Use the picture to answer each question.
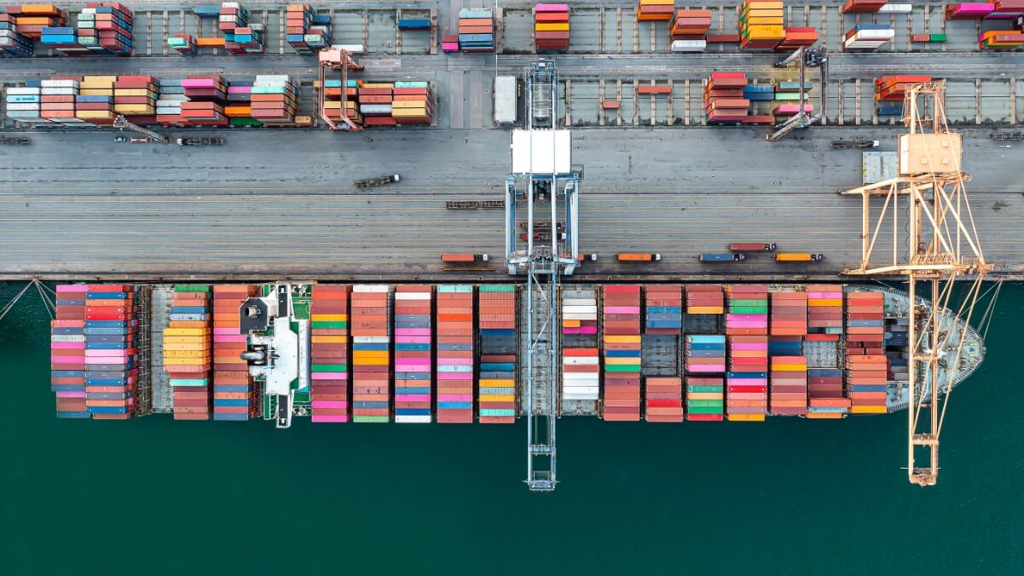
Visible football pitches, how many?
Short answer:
0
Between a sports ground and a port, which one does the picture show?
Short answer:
port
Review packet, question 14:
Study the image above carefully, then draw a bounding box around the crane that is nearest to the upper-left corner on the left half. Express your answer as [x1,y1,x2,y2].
[318,47,366,129]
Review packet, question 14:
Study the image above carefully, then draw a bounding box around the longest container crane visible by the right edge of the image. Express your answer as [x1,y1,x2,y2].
[828,83,992,483]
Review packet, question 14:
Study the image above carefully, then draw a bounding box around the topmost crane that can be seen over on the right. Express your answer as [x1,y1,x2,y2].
[770,46,829,129]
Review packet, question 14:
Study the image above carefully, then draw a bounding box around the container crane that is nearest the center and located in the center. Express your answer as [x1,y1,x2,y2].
[500,63,588,492]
